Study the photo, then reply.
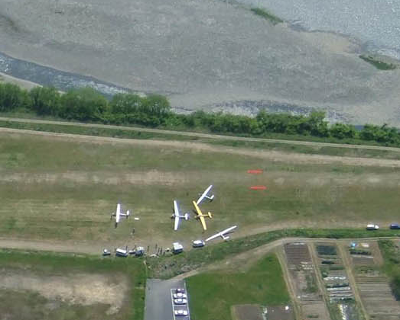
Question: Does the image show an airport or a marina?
airport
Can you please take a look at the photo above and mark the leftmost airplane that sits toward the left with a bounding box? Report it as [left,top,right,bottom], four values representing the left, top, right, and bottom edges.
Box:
[111,204,130,222]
